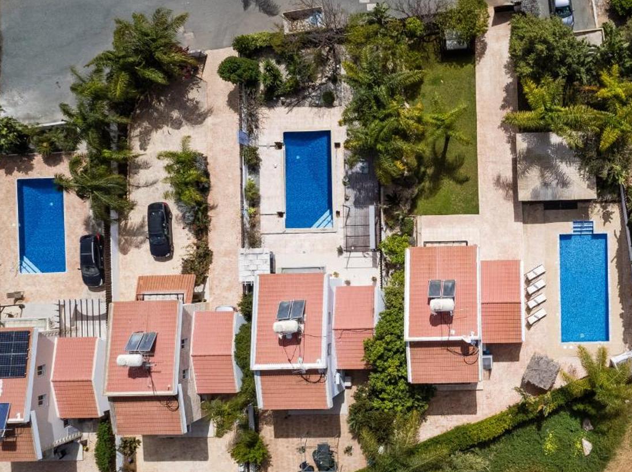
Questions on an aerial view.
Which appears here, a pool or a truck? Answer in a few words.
pool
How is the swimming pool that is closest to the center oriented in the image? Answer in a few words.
from top to bottom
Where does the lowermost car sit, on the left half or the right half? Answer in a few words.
left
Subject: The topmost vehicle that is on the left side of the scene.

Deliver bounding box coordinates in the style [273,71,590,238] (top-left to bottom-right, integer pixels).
[144,203,176,257]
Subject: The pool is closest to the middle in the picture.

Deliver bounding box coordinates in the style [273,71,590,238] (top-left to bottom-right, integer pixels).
[280,128,335,231]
